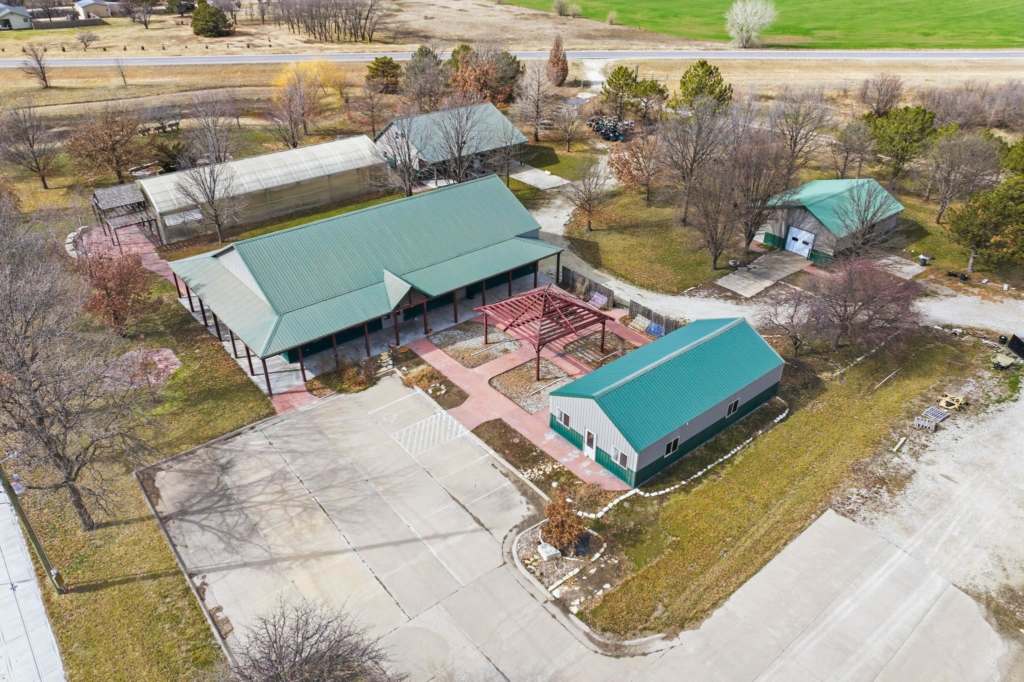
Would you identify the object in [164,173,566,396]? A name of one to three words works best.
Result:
building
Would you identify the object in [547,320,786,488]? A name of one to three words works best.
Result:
building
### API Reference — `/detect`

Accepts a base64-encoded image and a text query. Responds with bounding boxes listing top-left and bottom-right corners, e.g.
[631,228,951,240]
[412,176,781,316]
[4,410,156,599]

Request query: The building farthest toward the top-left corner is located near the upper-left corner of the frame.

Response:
[0,4,41,32]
